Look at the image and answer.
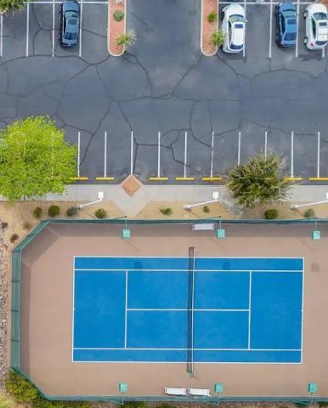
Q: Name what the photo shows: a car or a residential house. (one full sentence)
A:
This aerial view contains a car.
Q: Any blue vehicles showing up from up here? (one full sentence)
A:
Yes, the image includes a blue vehicle.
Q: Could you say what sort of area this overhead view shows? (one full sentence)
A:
What you see here is a sports ground.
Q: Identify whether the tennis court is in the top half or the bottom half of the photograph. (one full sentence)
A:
The bottom half of the photo is where the tennis court is.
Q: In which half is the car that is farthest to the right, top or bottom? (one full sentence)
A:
You can find the car that is farthest to the right in the top half.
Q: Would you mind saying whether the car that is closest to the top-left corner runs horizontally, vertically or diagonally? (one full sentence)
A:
In this picture, the car that is closest to the top-left corner lies vertically.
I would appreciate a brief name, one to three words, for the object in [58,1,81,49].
car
